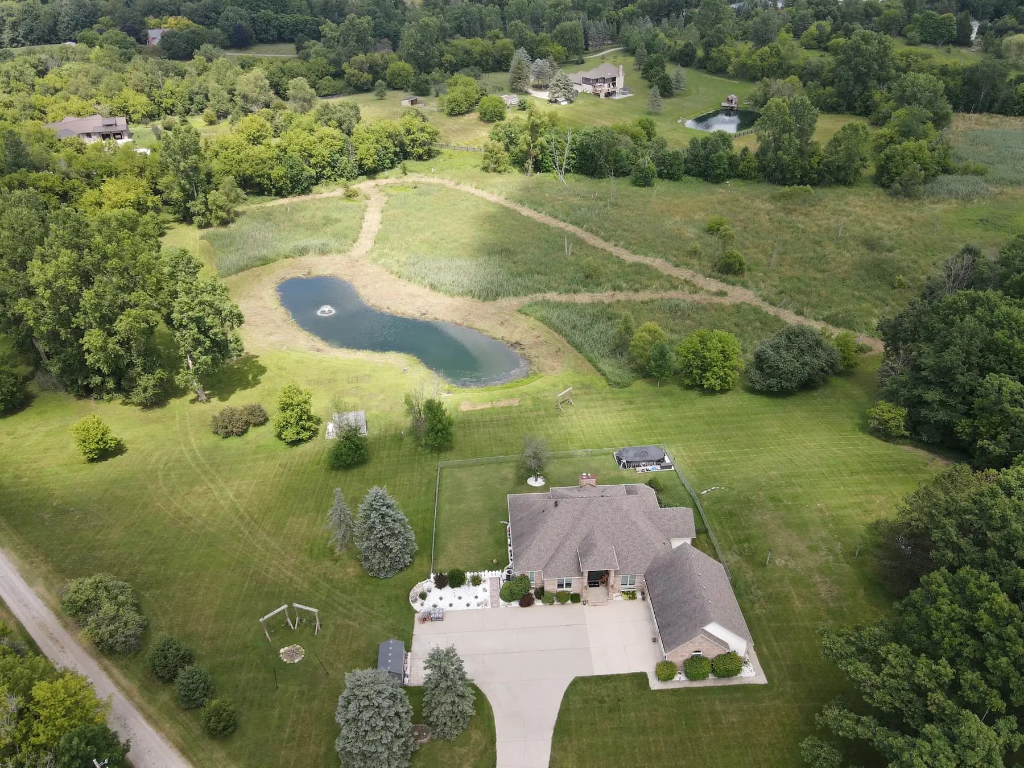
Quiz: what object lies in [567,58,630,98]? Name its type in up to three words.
house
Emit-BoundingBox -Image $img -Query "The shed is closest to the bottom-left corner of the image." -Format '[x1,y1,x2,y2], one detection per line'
[371,618,405,685]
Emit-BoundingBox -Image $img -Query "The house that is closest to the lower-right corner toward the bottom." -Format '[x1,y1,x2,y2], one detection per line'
[507,470,754,673]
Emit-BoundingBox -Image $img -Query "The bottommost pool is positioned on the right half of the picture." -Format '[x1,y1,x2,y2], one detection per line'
[619,445,665,471]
